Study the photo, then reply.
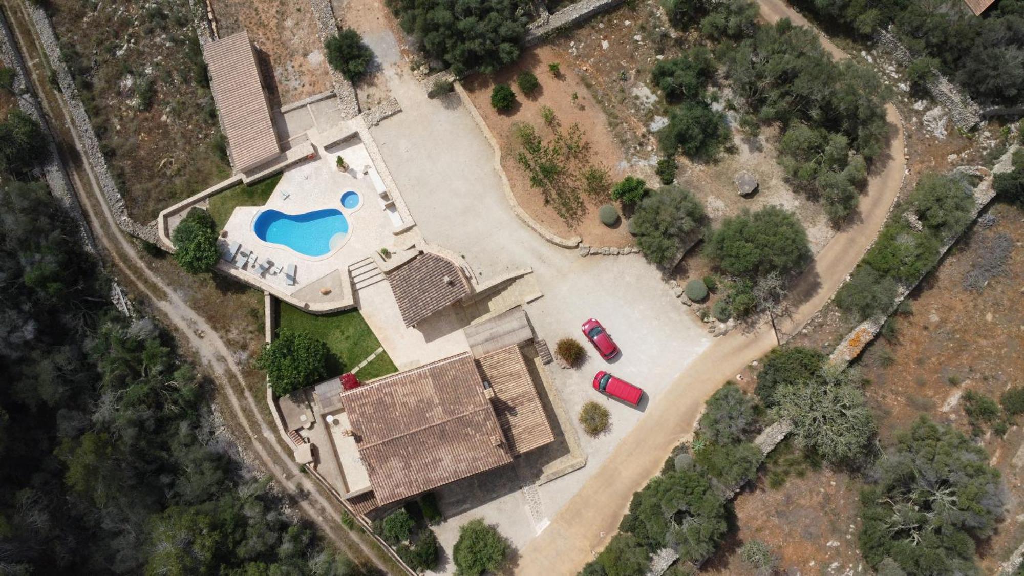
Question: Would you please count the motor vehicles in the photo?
two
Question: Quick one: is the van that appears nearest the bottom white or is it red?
red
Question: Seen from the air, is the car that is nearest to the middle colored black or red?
red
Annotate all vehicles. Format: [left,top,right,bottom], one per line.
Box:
[591,369,644,408]
[582,317,620,363]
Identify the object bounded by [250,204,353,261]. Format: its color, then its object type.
blue swimming pool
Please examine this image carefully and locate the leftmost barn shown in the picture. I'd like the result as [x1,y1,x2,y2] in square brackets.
[203,30,287,178]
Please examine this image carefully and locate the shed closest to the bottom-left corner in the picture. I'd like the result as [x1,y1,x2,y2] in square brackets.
[297,442,321,465]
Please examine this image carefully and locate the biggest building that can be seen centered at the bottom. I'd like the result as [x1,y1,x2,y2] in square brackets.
[340,353,513,506]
